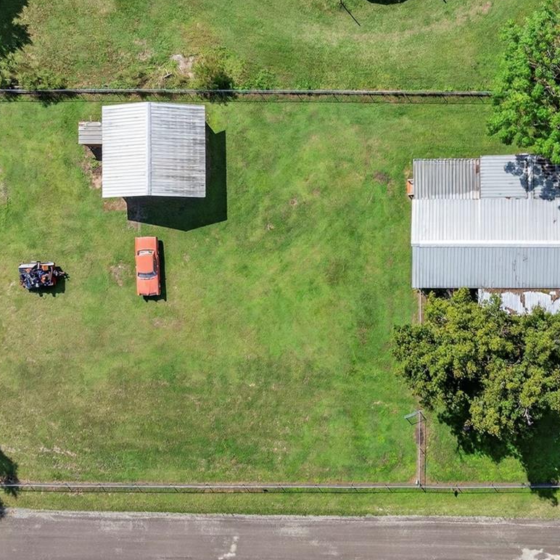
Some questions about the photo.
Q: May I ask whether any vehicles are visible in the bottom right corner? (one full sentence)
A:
No, no vehicle is visible in the bottom right corner.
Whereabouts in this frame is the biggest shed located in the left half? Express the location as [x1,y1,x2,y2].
[102,101,209,197]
